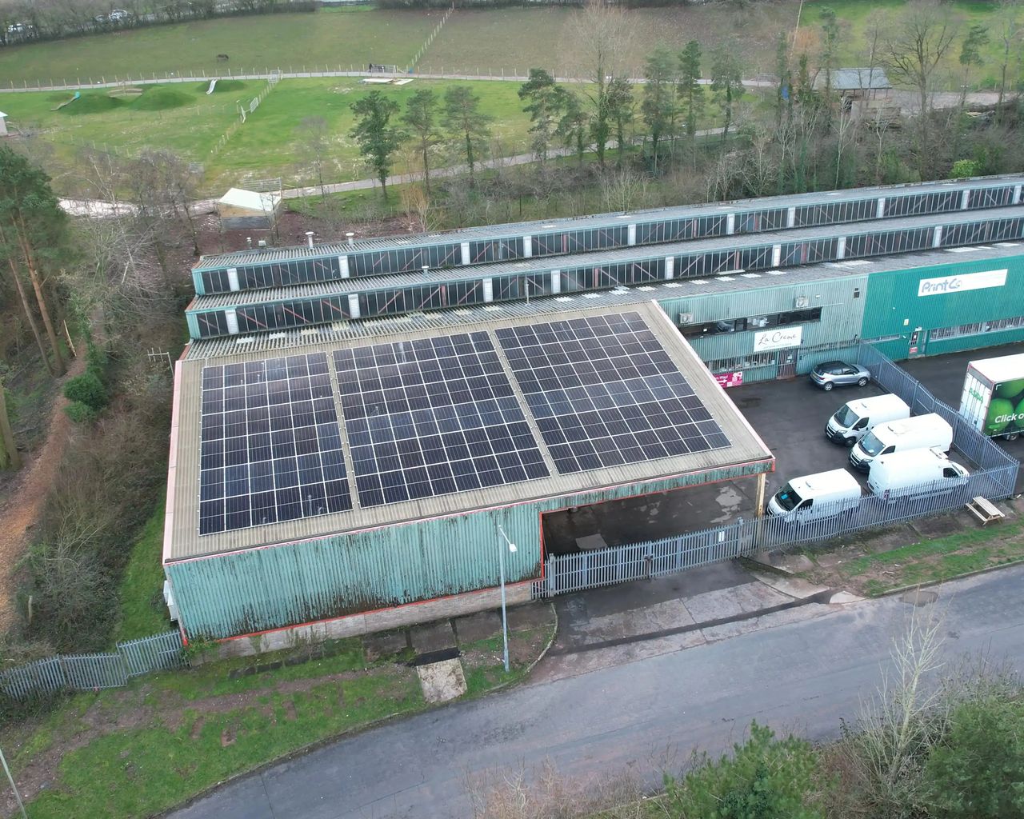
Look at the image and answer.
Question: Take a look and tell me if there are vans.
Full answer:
Yes, a van can be made out from above.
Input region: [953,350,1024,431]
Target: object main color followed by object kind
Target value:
white trailer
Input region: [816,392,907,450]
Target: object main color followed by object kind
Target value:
white van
